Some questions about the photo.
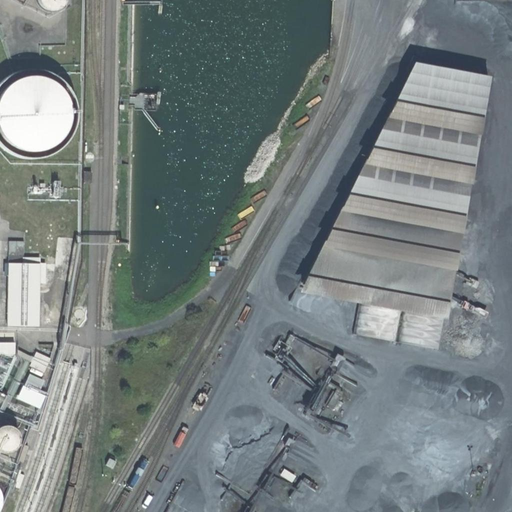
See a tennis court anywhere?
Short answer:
No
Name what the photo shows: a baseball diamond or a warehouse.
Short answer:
warehouse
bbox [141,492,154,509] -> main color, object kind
white vehicle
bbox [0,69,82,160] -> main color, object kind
white storage tank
